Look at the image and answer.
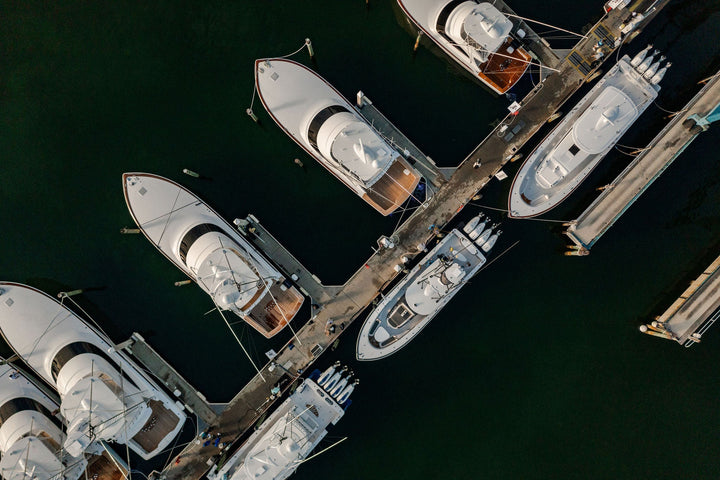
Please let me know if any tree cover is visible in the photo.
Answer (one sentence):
No, there's no tree cover in this view.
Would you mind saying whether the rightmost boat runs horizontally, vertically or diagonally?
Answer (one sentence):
In this picture, the rightmost boat is oriented diagonally.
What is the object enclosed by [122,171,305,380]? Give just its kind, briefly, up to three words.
boat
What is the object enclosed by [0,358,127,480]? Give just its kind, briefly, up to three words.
boat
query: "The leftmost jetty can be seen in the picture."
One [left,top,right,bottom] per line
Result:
[124,330,229,440]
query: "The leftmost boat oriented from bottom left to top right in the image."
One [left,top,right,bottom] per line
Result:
[207,363,356,480]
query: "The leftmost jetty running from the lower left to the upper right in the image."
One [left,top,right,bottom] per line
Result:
[155,0,643,480]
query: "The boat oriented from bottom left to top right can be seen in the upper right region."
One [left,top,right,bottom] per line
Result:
[508,43,672,219]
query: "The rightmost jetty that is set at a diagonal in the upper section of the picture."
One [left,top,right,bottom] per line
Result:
[567,64,720,252]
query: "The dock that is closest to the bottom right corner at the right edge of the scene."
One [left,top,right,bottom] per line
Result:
[655,249,720,346]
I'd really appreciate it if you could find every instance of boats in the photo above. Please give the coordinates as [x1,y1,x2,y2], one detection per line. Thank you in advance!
[508,43,672,219]
[0,280,190,480]
[207,363,356,480]
[255,58,424,217]
[122,171,305,380]
[0,358,127,480]
[356,213,519,361]
[387,0,587,98]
